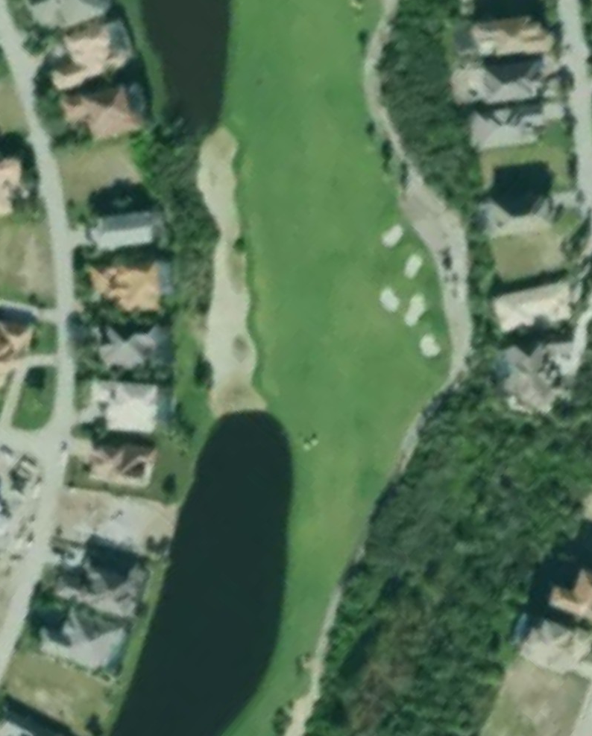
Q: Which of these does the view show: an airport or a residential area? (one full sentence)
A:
It's a residential area.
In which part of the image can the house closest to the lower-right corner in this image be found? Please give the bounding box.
[516,613,592,682]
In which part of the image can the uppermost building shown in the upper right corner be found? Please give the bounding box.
[477,17,557,62]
